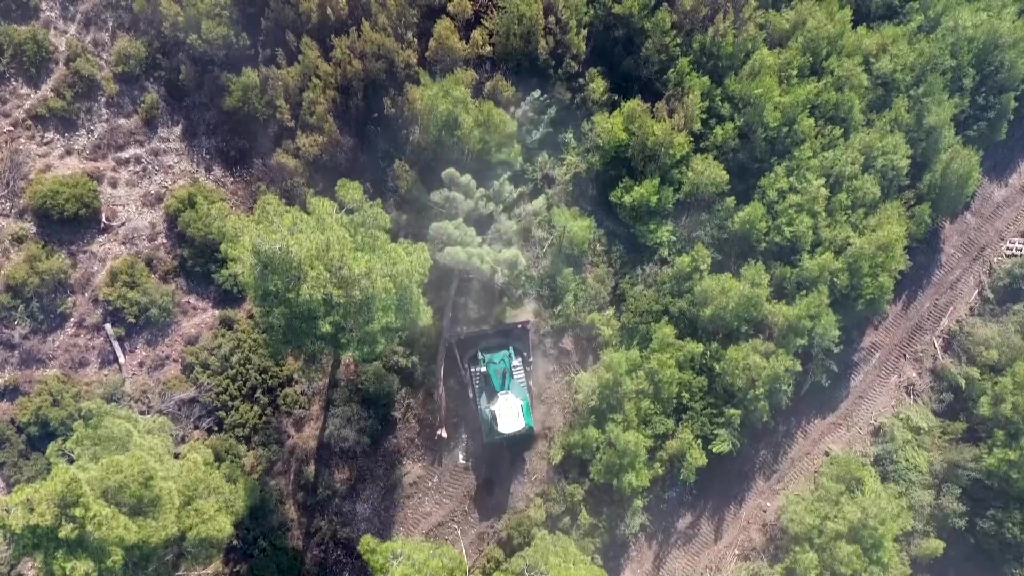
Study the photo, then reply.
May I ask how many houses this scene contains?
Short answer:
none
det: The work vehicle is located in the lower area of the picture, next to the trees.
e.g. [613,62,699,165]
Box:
[456,315,544,453]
